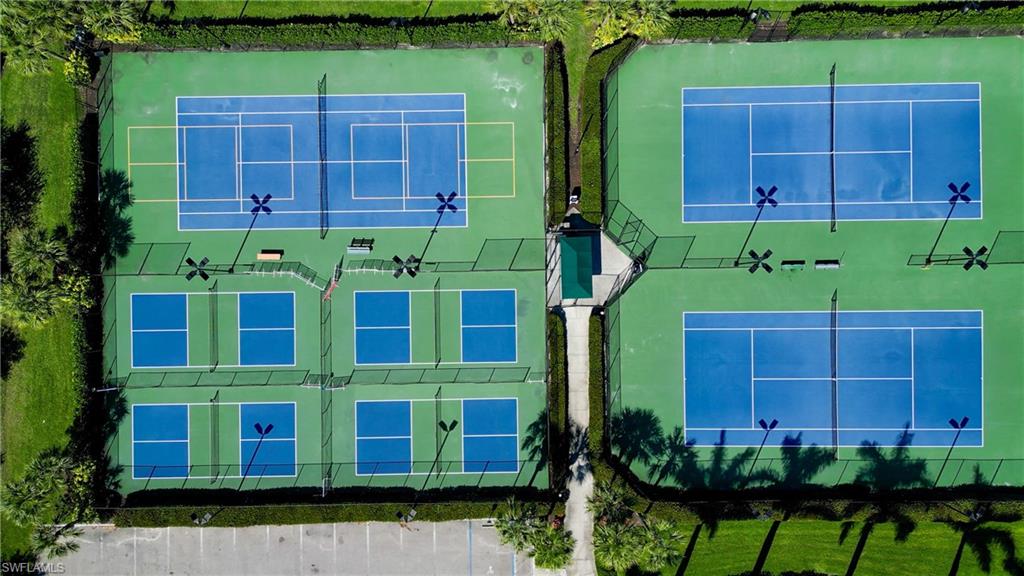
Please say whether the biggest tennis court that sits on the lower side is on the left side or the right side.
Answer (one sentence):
The biggest tennis court that sits on the lower side is on the right side of the image.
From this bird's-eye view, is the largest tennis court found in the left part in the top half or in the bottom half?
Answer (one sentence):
The largest tennis court found in the left part is in the top half of the image.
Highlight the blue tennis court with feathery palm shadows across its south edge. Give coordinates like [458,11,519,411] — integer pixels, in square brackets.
[683,310,984,447]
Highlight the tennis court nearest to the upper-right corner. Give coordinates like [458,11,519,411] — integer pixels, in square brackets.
[682,82,982,223]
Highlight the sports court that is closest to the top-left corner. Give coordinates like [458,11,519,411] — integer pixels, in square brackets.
[128,125,293,202]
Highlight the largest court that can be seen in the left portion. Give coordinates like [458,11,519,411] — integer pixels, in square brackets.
[176,93,468,230]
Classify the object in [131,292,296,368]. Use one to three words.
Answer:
sports court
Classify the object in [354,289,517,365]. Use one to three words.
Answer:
sports court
